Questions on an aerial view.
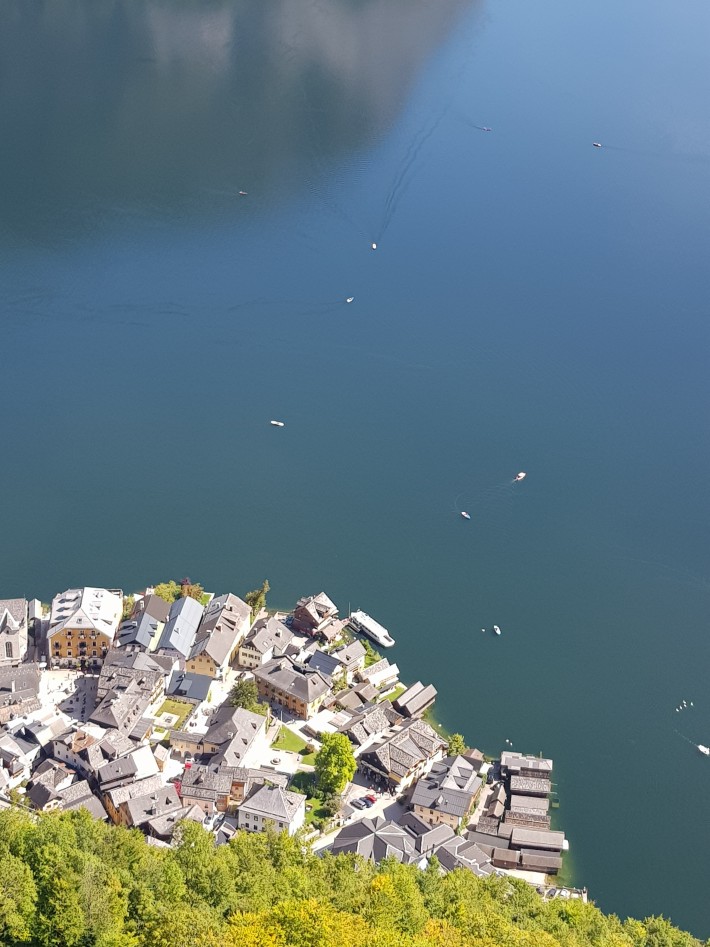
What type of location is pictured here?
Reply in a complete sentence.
This image shows a residential area.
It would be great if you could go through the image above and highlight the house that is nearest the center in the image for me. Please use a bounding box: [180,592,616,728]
[293,590,341,648]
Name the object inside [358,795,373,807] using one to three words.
vehicle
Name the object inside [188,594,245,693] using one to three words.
house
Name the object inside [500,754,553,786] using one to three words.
building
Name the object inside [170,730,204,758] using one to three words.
house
